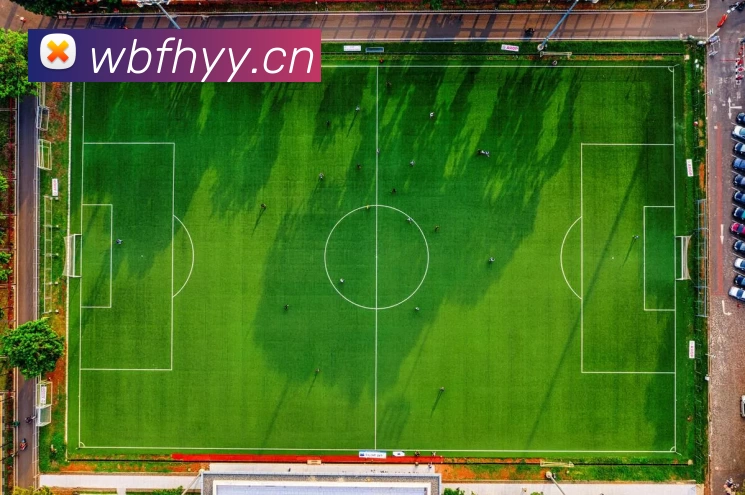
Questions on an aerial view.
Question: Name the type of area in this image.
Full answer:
It's a sports ground.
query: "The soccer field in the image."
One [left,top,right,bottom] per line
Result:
[68,60,685,457]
